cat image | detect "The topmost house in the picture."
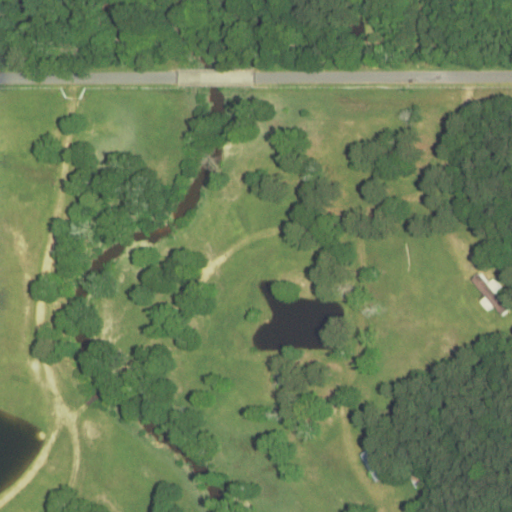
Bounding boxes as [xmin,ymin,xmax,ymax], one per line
[472,272,509,316]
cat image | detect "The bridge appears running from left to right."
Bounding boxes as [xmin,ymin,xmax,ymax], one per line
[176,70,255,86]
